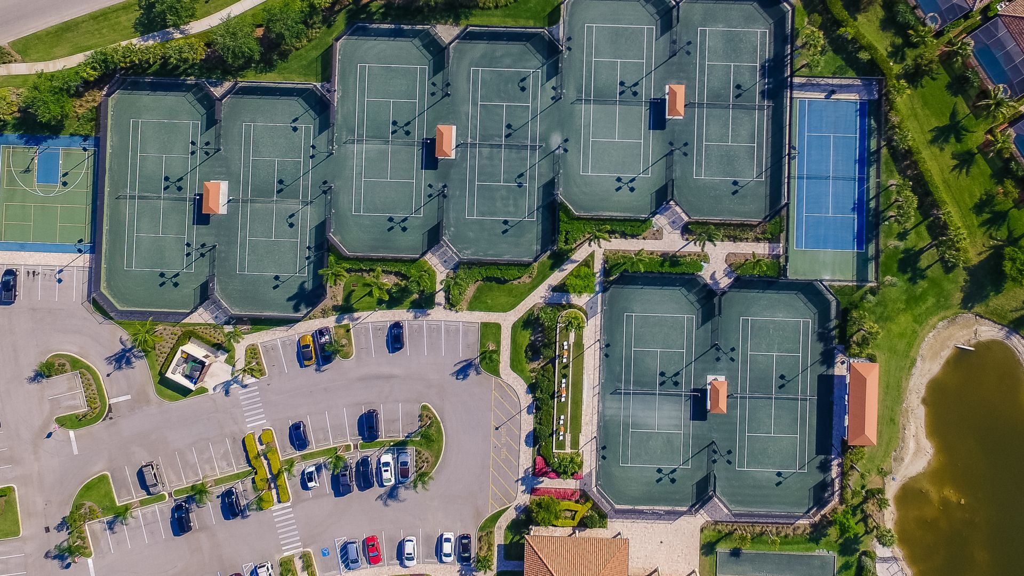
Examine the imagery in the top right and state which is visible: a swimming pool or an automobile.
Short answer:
swimming pool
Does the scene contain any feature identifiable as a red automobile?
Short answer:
Yes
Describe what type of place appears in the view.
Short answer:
sports ground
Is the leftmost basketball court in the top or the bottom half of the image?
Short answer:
top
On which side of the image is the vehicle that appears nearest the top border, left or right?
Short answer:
left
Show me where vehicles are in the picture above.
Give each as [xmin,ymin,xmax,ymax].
[224,488,242,517]
[255,558,272,576]
[397,451,412,482]
[303,464,319,490]
[367,534,383,564]
[173,501,194,534]
[0,268,20,304]
[346,538,362,569]
[142,461,163,492]
[358,456,375,490]
[299,334,316,366]
[313,325,333,362]
[337,459,356,495]
[403,535,417,566]
[441,531,455,562]
[390,321,404,352]
[364,407,381,441]
[379,452,395,486]
[458,533,472,563]
[292,419,310,451]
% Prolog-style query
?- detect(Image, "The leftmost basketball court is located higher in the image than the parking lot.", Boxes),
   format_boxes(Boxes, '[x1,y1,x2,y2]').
[0,134,99,253]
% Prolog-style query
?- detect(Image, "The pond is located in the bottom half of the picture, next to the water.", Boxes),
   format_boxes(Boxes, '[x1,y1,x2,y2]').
[893,339,1024,576]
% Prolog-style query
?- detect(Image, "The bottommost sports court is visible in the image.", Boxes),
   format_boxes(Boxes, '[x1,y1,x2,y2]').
[716,550,835,576]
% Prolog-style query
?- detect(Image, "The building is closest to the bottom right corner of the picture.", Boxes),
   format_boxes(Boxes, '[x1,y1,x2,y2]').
[845,359,880,447]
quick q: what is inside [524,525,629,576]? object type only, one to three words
building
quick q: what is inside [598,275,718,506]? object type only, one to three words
tennis court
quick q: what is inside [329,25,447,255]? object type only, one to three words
tennis court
